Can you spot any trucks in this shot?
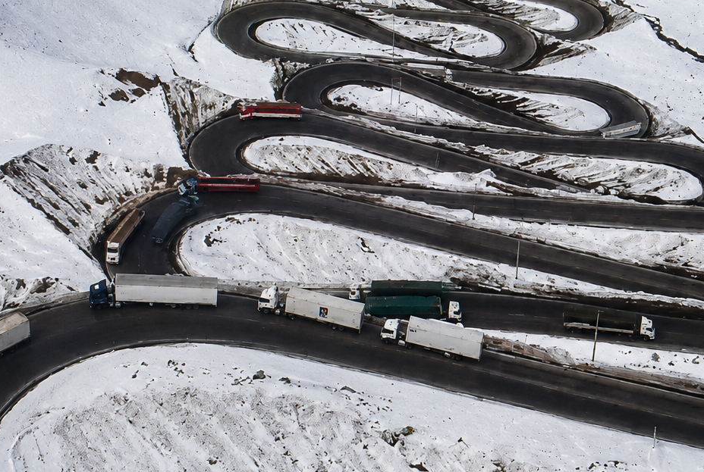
Yes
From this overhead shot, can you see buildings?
No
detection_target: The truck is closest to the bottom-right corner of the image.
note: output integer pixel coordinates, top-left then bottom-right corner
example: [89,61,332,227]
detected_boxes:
[563,305,657,343]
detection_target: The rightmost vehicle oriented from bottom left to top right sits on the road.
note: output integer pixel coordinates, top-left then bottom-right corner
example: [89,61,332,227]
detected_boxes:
[150,199,196,252]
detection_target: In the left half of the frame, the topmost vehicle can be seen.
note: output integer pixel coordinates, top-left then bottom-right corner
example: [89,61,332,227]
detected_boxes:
[238,101,301,122]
